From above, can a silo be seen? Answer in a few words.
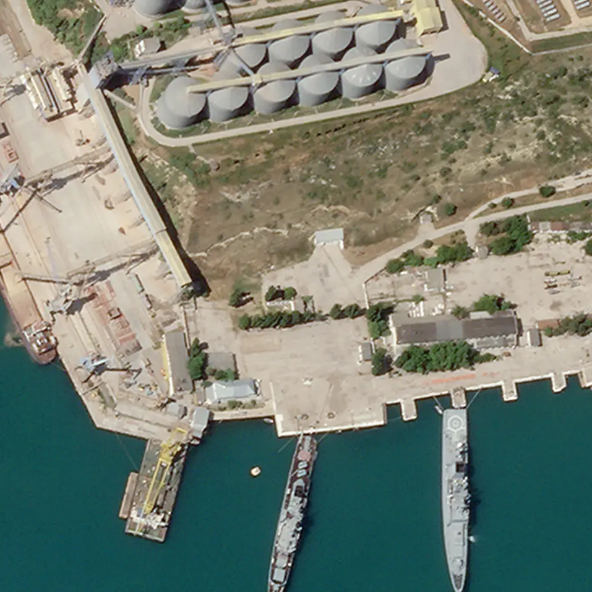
Yes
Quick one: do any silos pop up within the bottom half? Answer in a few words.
No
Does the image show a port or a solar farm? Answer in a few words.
port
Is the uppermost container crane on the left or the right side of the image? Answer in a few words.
left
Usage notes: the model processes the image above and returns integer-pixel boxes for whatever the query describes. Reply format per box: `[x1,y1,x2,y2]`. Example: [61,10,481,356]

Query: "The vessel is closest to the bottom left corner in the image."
[124,428,186,544]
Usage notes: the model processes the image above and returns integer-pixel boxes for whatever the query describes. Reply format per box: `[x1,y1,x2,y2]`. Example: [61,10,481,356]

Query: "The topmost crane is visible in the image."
[0,58,78,106]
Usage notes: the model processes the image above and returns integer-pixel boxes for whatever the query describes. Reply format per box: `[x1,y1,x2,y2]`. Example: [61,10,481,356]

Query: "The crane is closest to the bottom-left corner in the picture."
[74,353,139,381]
